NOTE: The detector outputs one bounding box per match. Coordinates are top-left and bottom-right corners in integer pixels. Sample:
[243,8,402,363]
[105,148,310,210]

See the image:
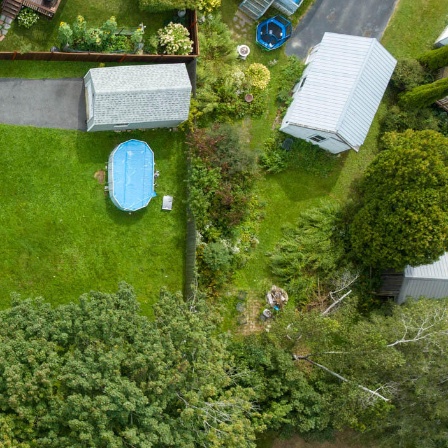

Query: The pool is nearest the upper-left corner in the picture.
[103,139,158,213]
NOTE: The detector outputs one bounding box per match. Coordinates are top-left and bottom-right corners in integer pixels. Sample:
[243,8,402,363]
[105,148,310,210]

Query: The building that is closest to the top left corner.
[85,63,192,130]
